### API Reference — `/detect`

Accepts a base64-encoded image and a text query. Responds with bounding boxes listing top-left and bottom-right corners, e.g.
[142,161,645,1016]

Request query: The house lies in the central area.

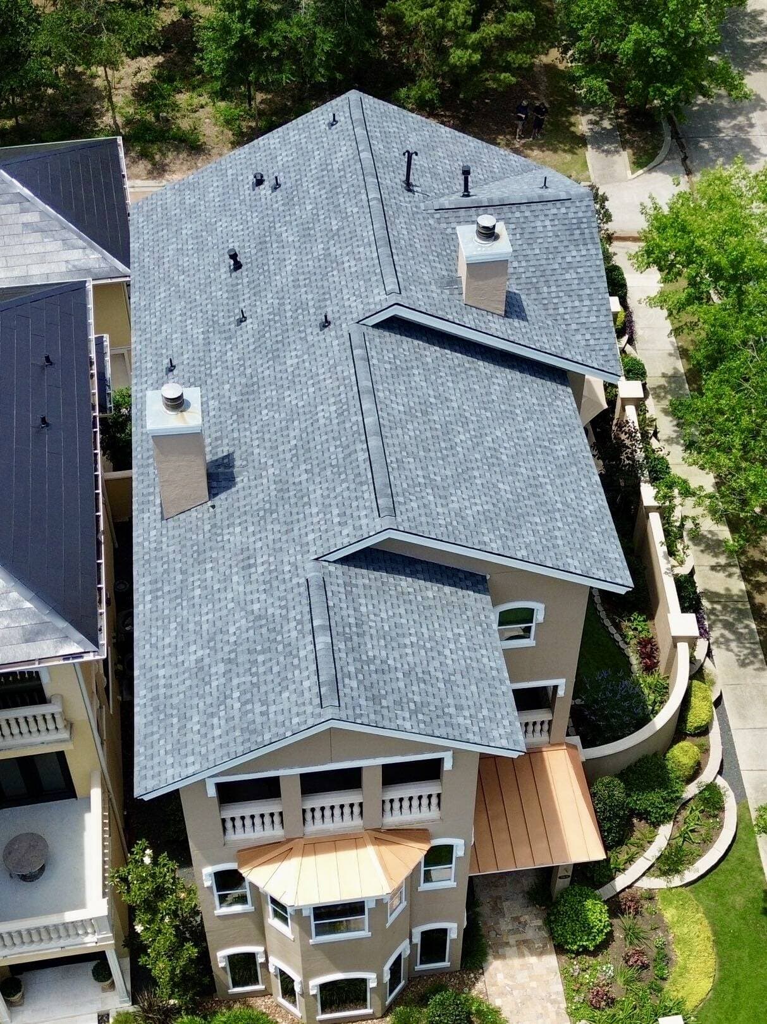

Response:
[131,88,636,1022]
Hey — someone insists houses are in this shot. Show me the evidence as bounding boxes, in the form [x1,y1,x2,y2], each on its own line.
[131,88,636,1022]
[0,280,136,1024]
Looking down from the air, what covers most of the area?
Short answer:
buildings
